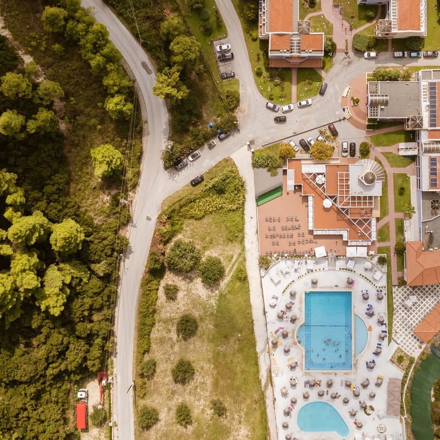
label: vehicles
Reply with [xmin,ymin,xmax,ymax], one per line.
[190,175,204,187]
[329,123,339,137]
[215,131,230,141]
[299,137,309,151]
[206,140,218,149]
[281,104,294,112]
[424,52,438,58]
[265,102,279,112]
[319,82,328,97]
[409,52,422,58]
[297,100,312,107]
[306,135,313,147]
[222,72,235,79]
[287,139,300,153]
[175,160,189,170]
[349,142,356,157]
[188,150,202,161]
[273,116,287,123]
[342,142,347,157]
[218,54,233,61]
[394,52,407,58]
[217,44,232,52]
[364,53,377,59]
